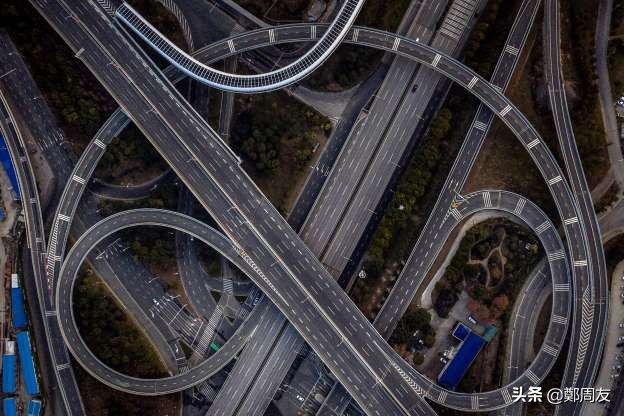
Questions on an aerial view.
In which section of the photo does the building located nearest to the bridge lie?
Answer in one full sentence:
The building located nearest to the bridge sits in the bottom right section of the image.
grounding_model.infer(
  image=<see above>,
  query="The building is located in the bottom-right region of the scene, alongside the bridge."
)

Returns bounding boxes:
[438,329,486,390]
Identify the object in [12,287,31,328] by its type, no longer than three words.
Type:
shed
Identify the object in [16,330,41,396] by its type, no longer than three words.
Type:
shed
